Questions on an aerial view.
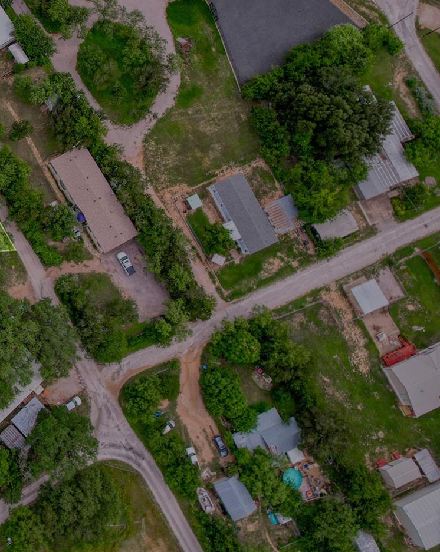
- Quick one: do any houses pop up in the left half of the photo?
Yes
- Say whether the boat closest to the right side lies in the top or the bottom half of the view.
bottom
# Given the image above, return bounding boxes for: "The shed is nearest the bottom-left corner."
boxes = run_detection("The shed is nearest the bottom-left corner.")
[0,425,25,451]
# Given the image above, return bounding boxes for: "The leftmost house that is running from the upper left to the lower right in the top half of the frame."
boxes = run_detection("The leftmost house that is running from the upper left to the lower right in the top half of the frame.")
[48,149,137,255]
